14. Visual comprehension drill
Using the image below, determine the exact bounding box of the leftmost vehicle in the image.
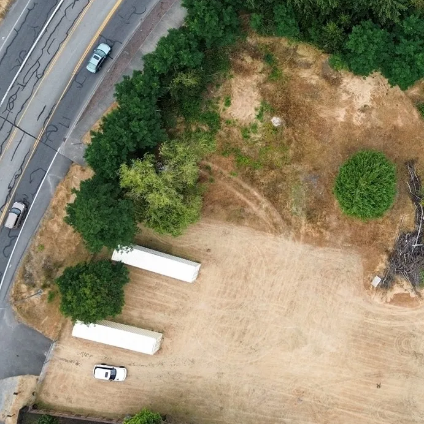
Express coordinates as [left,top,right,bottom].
[3,201,27,230]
